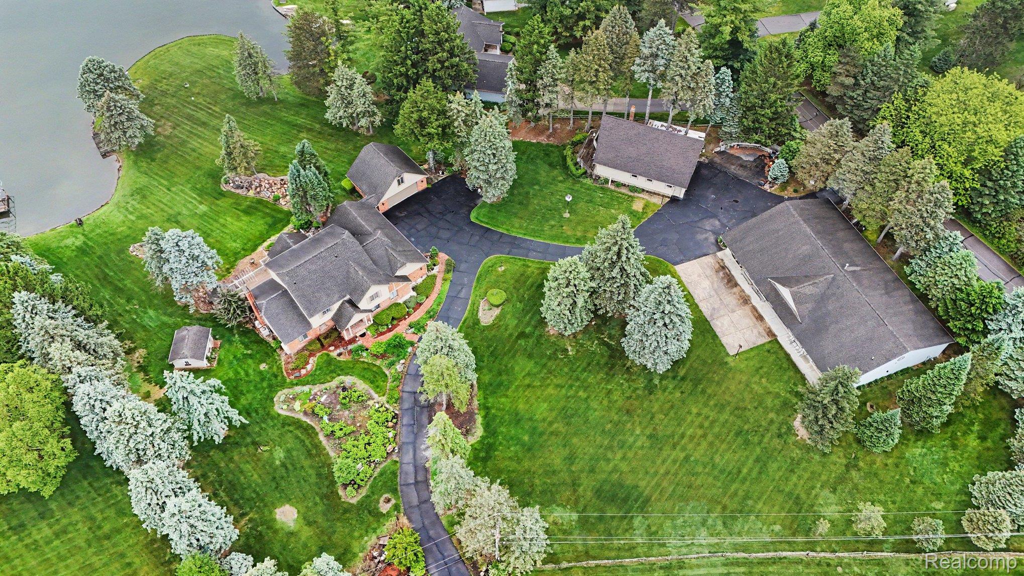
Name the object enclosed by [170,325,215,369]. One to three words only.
shed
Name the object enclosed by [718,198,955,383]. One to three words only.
shed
